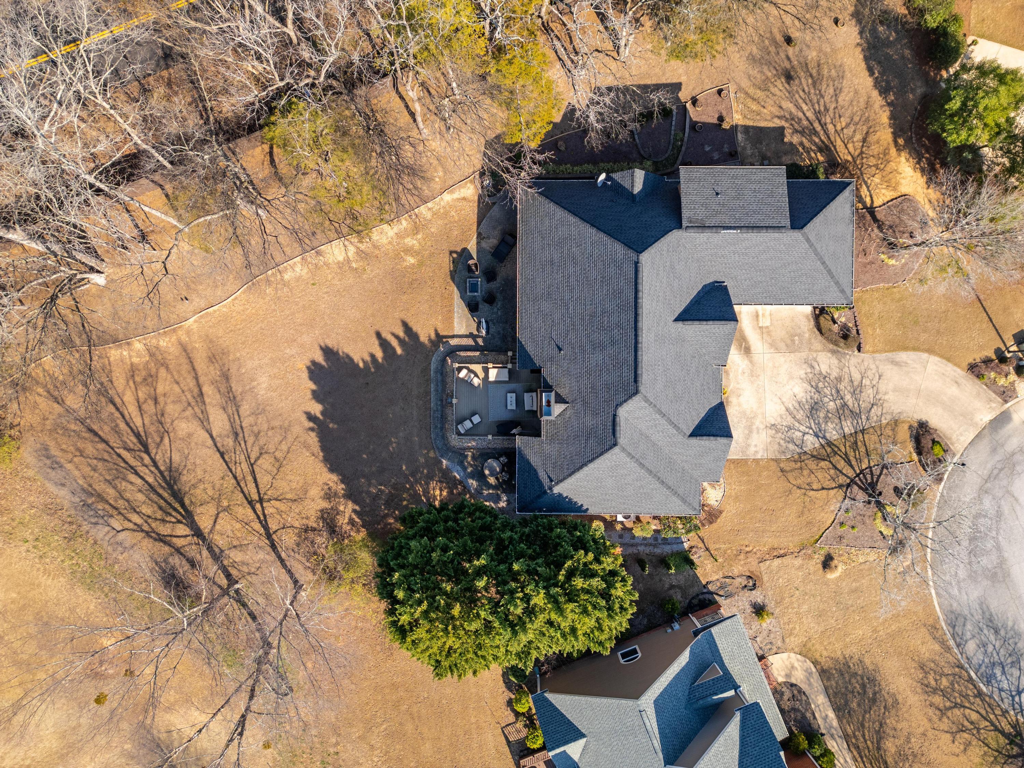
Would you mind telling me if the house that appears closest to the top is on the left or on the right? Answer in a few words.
right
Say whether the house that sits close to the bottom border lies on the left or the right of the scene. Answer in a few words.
right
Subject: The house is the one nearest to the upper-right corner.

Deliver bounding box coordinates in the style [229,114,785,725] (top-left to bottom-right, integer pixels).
[515,164,857,516]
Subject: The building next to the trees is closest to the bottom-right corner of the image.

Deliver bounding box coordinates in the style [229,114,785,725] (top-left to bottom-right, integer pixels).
[528,600,832,768]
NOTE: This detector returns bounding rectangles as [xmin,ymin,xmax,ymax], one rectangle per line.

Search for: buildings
[528,600,832,768]
[515,164,857,516]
